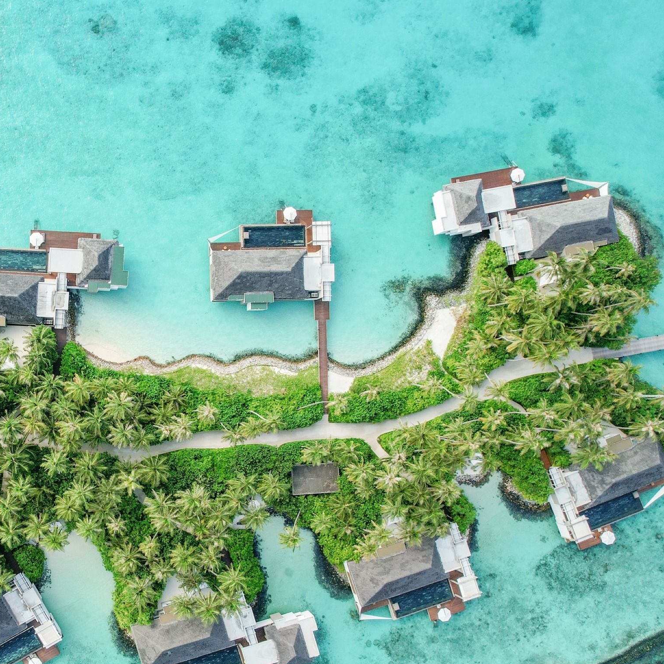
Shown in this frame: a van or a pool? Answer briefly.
pool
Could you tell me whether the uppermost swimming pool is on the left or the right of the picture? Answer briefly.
right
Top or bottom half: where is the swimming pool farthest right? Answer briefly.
bottom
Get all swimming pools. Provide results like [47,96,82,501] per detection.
[508,175,574,209]
[585,482,658,526]
[386,579,457,622]
[239,225,307,249]
[175,645,243,664]
[0,625,46,664]
[0,248,49,273]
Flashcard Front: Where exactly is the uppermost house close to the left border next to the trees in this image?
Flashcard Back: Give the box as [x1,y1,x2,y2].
[0,227,129,334]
